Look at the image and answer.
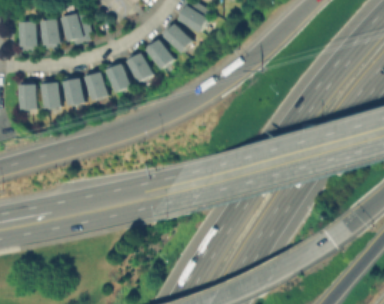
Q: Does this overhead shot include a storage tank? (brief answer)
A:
No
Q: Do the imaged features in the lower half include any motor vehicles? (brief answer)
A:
Yes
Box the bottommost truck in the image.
[176,258,198,293]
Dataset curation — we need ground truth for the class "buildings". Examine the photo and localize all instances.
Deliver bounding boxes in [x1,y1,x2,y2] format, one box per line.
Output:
[162,24,197,55]
[18,84,39,115]
[62,76,88,110]
[18,22,39,52]
[178,5,210,34]
[126,52,158,86]
[146,39,178,73]
[62,14,86,44]
[104,63,134,95]
[84,72,111,104]
[40,83,62,114]
[40,20,62,49]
